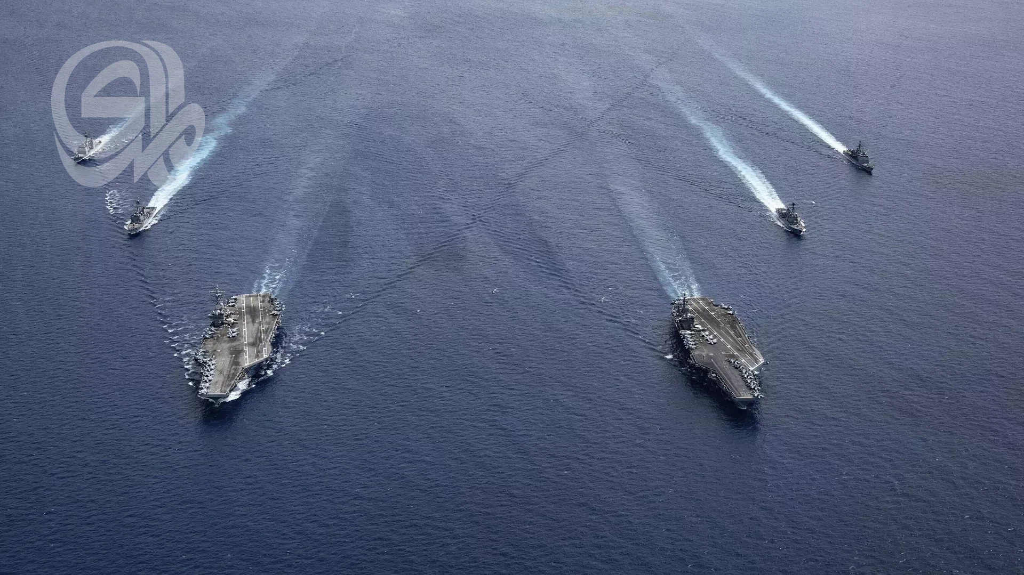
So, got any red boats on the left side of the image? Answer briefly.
No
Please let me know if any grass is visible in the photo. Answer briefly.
No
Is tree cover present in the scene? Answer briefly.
No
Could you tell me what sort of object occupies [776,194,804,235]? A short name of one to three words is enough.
ship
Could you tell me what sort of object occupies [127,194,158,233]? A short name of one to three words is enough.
ship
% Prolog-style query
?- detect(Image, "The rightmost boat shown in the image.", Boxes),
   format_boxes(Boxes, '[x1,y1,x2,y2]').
[842,140,874,172]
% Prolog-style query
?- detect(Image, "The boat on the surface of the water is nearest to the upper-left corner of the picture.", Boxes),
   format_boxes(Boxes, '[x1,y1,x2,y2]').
[73,130,101,164]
